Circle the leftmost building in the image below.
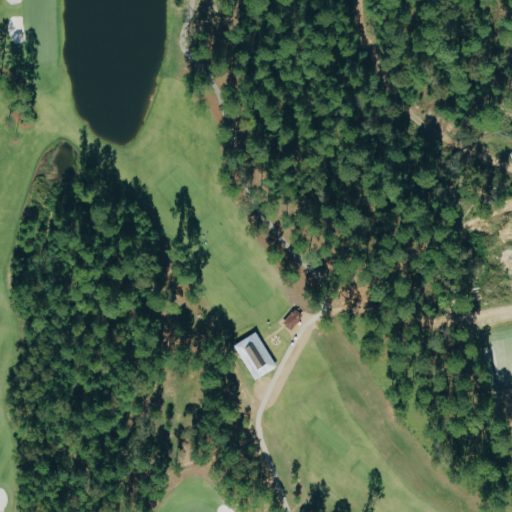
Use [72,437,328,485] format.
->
[234,332,277,380]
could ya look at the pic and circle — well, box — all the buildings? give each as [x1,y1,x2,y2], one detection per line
[284,310,302,330]
[234,332,277,380]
